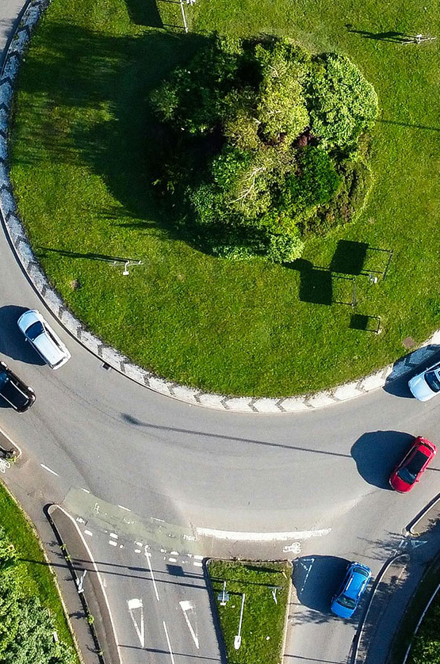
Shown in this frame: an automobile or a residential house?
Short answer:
automobile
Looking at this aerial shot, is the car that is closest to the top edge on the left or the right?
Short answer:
left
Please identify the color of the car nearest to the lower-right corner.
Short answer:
blue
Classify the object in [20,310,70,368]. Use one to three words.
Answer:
car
